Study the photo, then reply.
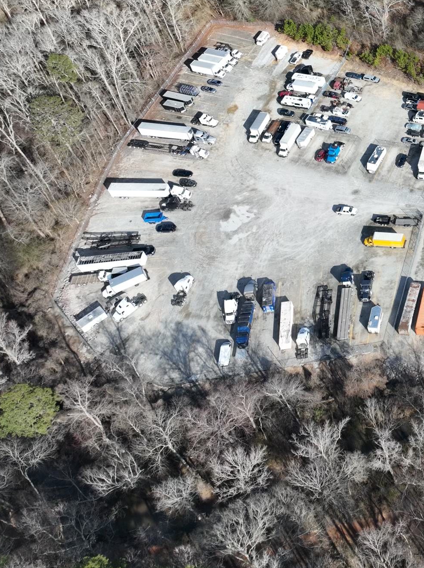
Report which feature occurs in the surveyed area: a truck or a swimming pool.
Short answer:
truck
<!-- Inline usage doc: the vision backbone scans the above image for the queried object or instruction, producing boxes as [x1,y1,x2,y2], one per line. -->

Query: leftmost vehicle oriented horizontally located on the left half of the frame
[73,271,112,285]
